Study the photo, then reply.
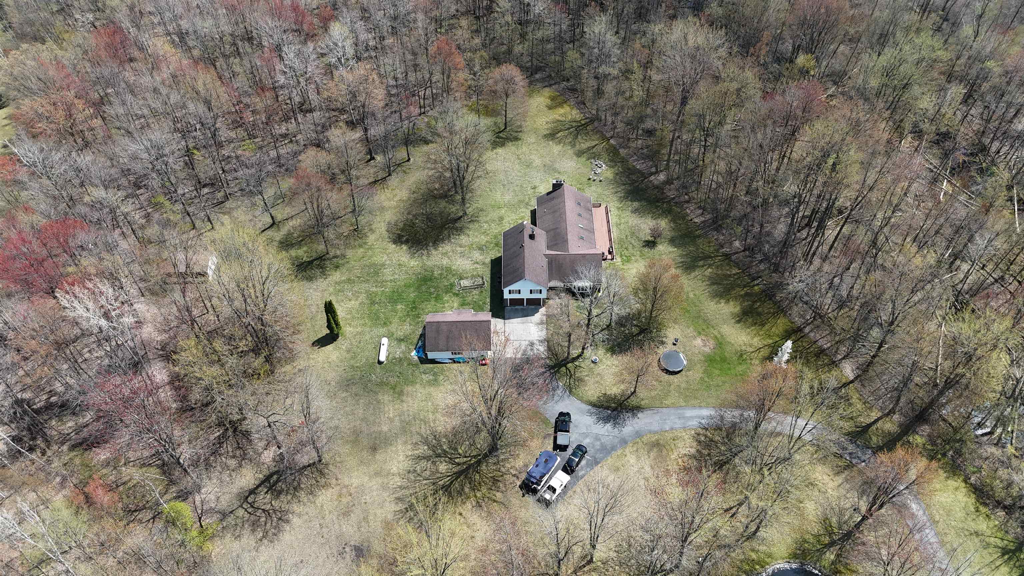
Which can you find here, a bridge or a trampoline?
trampoline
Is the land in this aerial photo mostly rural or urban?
rural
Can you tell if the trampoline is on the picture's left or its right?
right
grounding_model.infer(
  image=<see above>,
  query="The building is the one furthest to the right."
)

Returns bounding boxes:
[501,178,602,306]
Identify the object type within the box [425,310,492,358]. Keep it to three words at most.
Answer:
building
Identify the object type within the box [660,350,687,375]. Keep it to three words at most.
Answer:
trampoline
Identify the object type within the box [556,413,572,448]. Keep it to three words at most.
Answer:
vehicle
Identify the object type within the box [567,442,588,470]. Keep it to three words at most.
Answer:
car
